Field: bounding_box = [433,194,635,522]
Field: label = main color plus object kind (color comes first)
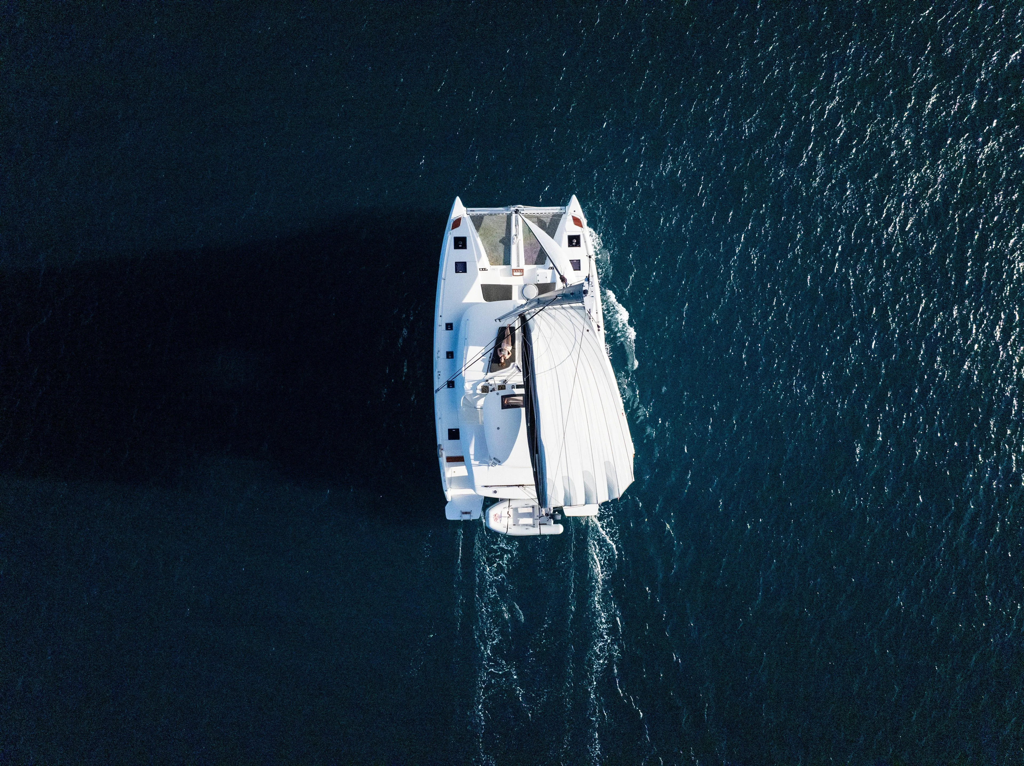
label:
white boat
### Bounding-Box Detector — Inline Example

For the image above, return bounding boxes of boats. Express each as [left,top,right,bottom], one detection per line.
[485,498,564,536]
[433,194,635,522]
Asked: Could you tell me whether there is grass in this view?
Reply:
No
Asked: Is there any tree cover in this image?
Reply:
No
